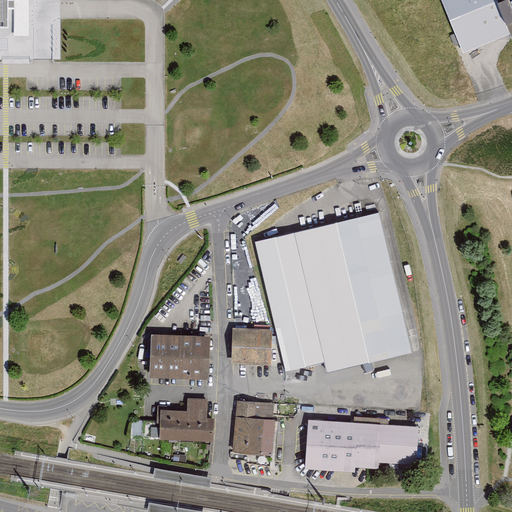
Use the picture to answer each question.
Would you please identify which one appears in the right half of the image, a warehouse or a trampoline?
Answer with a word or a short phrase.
warehouse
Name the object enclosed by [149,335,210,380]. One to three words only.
building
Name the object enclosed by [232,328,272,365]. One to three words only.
barn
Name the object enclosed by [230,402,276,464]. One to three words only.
house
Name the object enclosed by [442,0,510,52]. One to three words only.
shed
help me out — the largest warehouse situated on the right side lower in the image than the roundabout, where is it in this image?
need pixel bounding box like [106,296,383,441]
[256,213,412,372]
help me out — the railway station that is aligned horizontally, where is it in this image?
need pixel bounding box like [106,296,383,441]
[11,451,377,512]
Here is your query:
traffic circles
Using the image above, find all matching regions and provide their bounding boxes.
[376,108,445,176]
